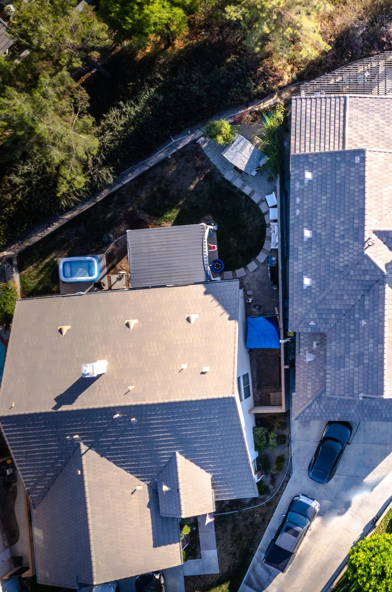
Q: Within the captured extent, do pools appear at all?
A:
Yes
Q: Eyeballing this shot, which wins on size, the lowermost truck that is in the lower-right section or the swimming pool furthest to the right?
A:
the truck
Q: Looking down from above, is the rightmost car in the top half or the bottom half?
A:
bottom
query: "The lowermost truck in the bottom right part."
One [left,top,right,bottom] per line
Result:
[258,493,321,583]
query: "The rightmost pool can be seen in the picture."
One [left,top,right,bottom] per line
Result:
[55,255,98,283]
